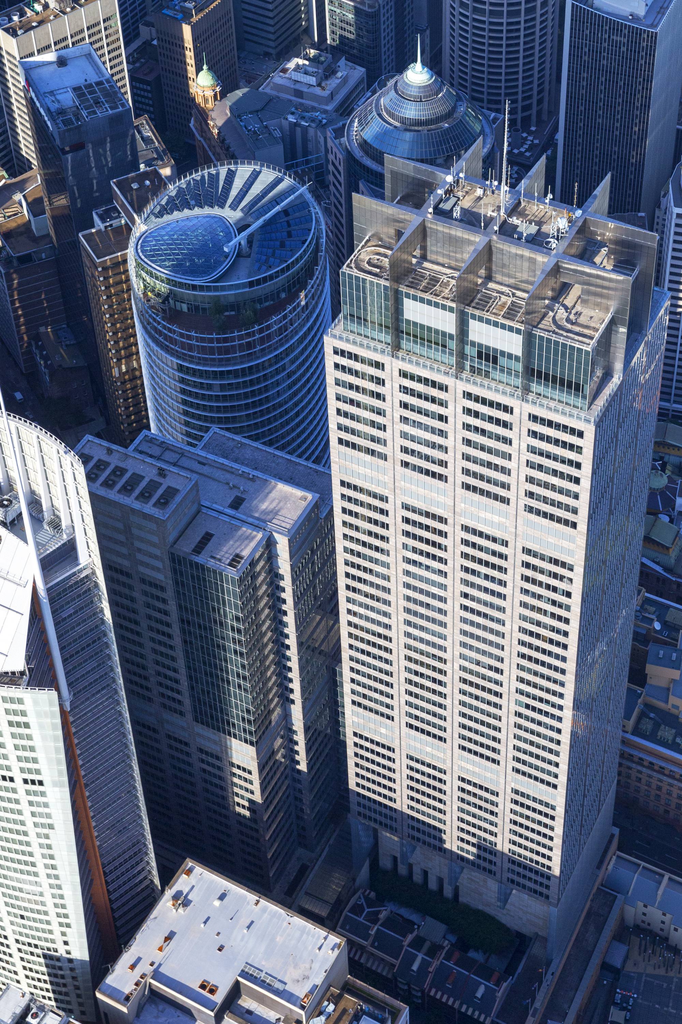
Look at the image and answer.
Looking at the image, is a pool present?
No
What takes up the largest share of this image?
buildings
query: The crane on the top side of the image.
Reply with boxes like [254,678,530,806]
[218,176,316,261]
